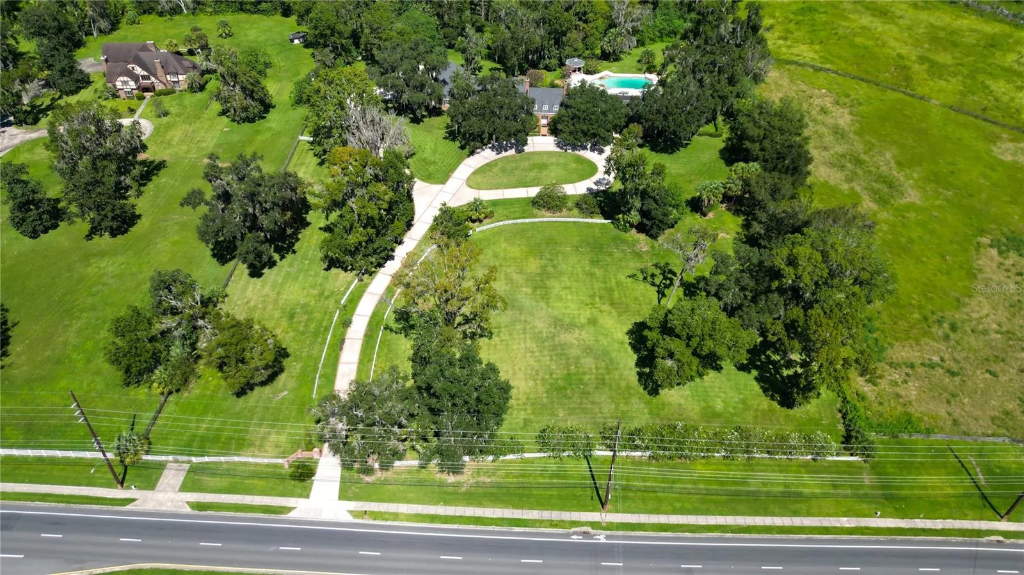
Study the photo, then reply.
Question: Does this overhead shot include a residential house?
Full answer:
Yes, I can see a residential house in this picture.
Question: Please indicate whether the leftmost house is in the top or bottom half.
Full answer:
The top half of the photo is where the leftmost house is.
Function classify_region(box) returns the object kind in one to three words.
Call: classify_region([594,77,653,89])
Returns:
swimming pool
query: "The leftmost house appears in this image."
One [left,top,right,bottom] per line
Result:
[94,36,209,99]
